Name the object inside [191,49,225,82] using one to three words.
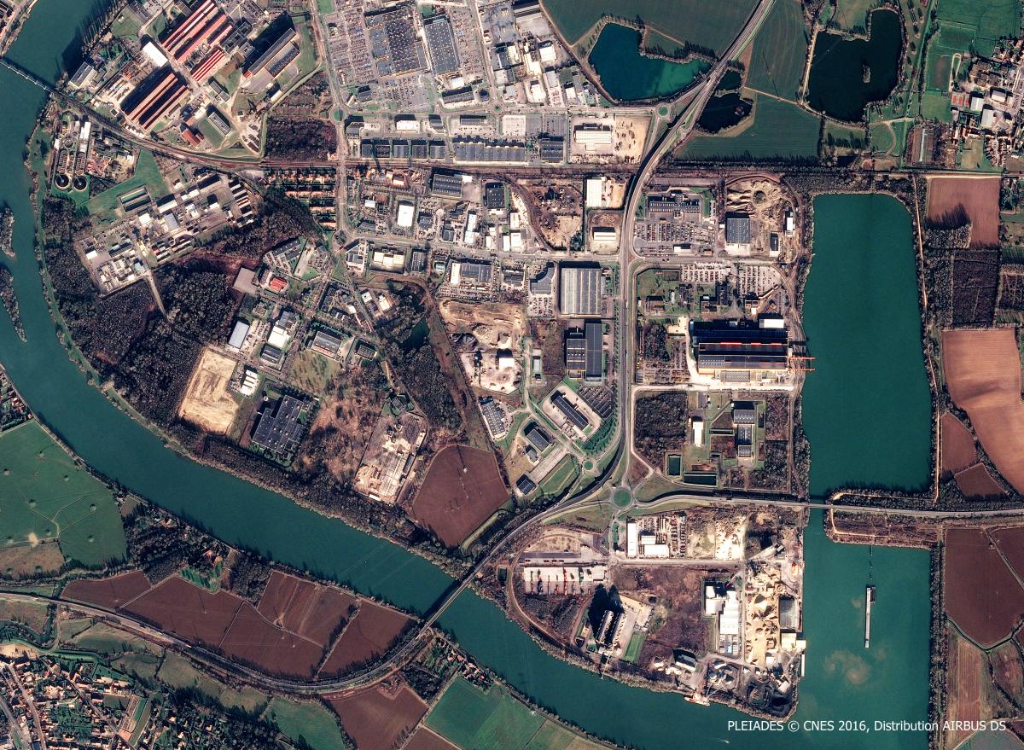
building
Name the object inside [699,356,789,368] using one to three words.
building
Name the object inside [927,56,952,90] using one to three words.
soccer field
